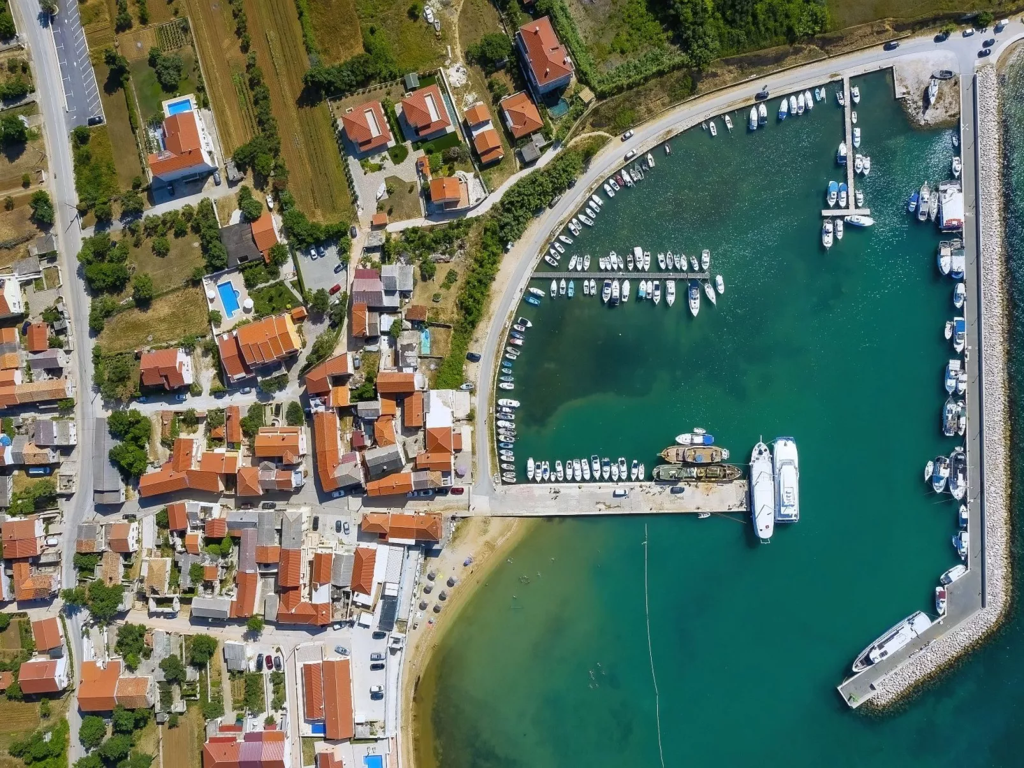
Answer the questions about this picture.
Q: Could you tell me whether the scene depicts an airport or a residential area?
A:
residential area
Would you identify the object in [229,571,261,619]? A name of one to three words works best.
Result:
house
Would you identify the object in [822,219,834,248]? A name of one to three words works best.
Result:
boat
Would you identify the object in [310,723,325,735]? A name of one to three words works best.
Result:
swimming pool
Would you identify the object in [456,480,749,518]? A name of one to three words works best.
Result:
pier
